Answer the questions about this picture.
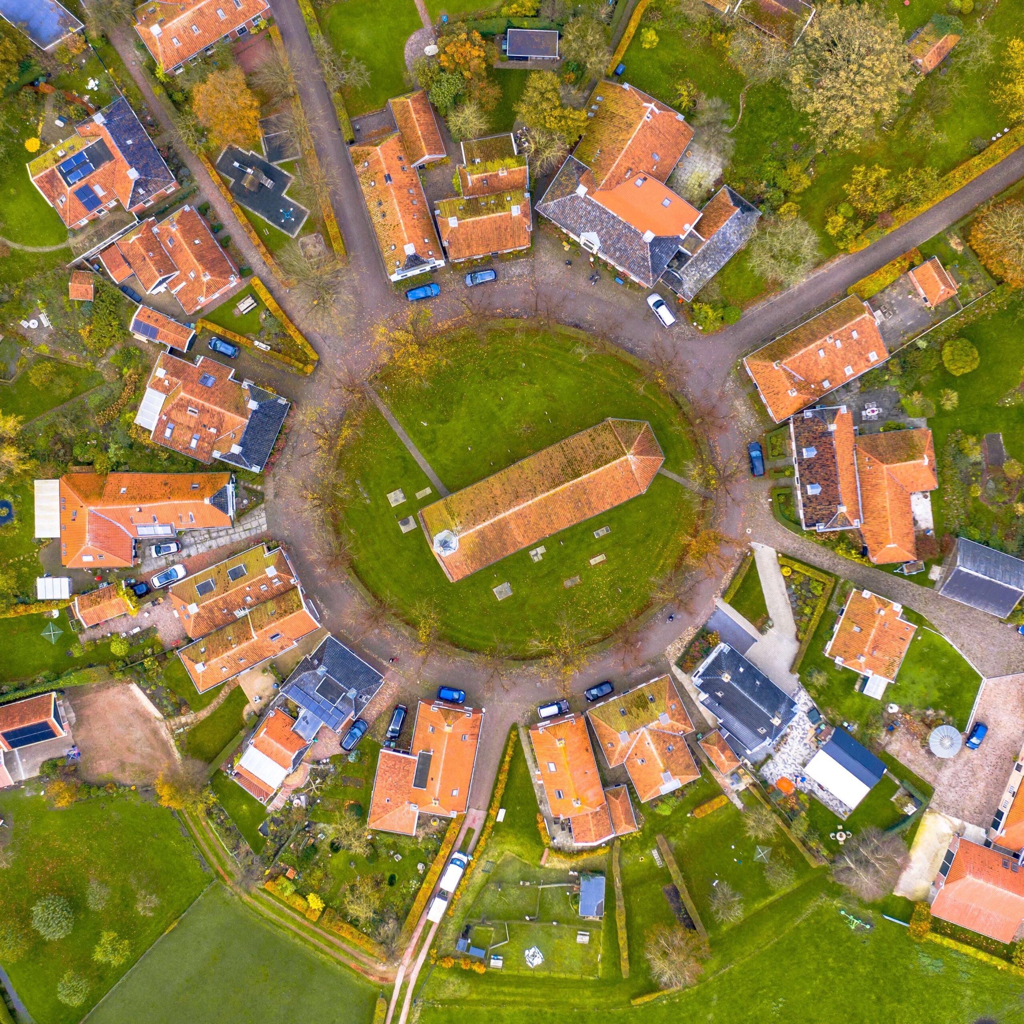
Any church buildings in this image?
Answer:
Yes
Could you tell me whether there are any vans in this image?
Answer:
Yes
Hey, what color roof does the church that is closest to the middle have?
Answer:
orange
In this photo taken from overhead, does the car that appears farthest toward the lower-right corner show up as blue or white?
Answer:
blue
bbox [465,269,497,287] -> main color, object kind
blue car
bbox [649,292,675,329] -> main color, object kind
white car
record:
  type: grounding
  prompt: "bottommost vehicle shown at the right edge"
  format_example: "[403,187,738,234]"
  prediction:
[965,720,987,751]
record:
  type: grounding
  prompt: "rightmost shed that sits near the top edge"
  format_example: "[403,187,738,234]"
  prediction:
[901,22,962,76]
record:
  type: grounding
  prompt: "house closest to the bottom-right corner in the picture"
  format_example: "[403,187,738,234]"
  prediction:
[925,832,1024,945]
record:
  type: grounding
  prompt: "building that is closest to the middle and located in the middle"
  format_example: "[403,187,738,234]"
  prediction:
[415,418,665,584]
